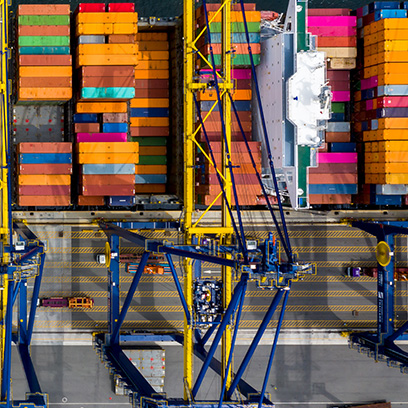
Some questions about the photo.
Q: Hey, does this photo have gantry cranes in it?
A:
Yes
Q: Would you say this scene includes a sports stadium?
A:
No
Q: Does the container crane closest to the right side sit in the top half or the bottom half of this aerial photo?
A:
bottom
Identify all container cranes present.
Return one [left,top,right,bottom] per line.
[91,0,317,408]
[341,219,408,369]
[0,0,55,408]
